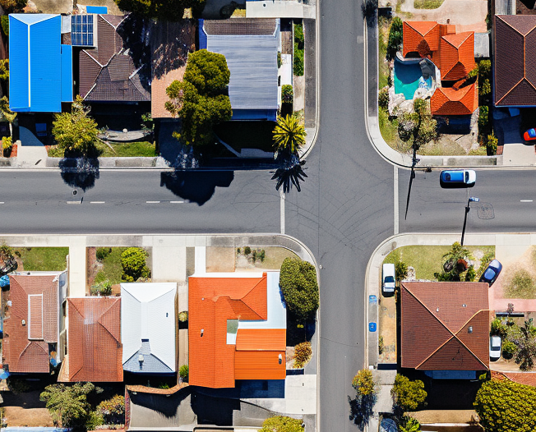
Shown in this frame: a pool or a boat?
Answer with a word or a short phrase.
pool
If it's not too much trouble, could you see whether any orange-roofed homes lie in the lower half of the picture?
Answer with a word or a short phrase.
Yes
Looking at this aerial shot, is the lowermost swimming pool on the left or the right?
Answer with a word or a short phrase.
right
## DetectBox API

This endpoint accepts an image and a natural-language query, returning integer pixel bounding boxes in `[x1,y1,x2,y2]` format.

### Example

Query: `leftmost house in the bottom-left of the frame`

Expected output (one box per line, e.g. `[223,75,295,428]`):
[1,275,63,373]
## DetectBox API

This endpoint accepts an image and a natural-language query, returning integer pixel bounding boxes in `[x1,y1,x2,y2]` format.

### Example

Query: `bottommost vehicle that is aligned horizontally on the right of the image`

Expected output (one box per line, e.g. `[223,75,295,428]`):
[440,169,475,186]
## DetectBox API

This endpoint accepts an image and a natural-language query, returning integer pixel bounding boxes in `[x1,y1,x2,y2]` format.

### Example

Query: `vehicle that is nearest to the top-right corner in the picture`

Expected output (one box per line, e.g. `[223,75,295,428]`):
[521,126,536,142]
